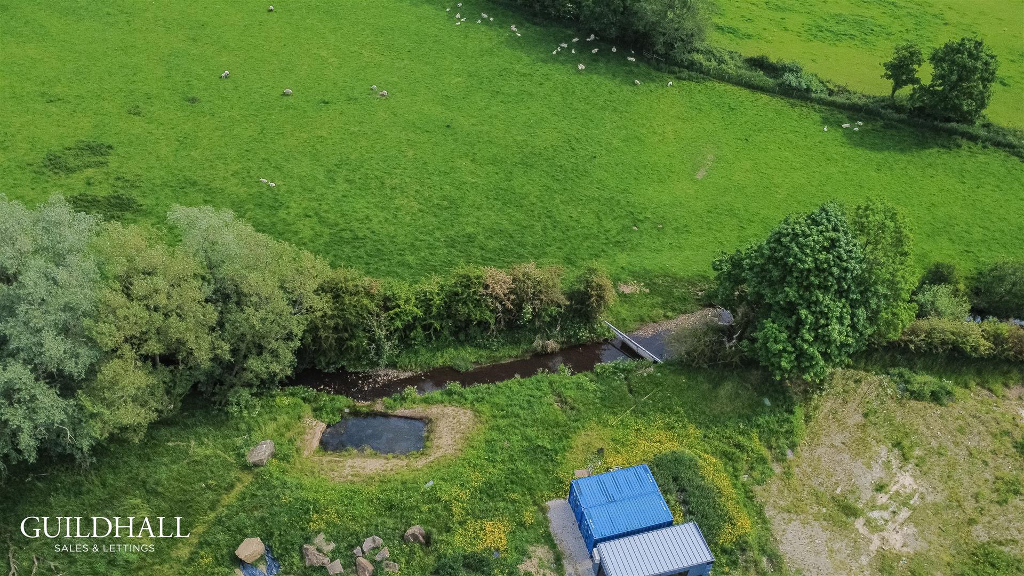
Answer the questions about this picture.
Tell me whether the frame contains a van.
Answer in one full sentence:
No, no van can be seen from above.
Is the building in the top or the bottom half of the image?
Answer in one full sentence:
The building sits in the bottom half of the picture.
